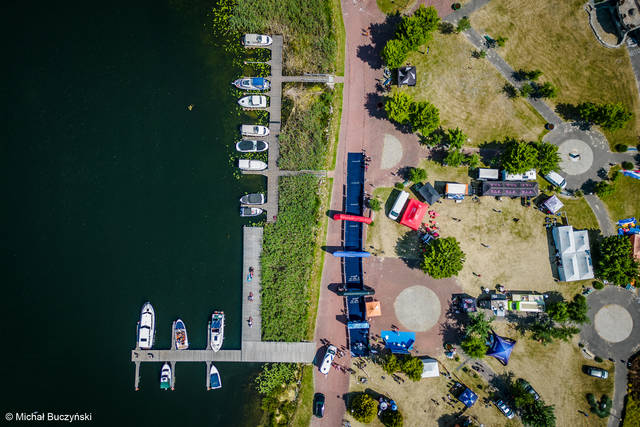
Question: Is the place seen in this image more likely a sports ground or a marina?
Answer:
marina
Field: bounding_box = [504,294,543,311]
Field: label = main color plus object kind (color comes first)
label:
white vehicle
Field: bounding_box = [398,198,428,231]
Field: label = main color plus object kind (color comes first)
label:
red tent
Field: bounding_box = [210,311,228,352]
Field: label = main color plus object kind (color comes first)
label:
white boat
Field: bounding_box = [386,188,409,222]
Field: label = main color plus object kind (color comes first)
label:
white vehicle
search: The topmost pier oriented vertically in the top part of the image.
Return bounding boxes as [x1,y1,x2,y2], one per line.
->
[241,35,282,221]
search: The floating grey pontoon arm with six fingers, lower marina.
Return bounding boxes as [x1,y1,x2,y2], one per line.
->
[132,319,242,390]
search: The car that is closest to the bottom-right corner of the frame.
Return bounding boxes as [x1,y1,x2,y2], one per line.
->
[586,365,609,380]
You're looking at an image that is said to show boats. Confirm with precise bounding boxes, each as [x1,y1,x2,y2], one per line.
[240,193,264,207]
[238,206,262,216]
[238,94,267,108]
[172,319,189,351]
[234,76,272,92]
[136,303,157,352]
[209,364,222,391]
[242,33,272,49]
[241,124,269,139]
[236,138,268,154]
[238,159,268,171]
[159,362,171,392]
[210,311,228,352]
